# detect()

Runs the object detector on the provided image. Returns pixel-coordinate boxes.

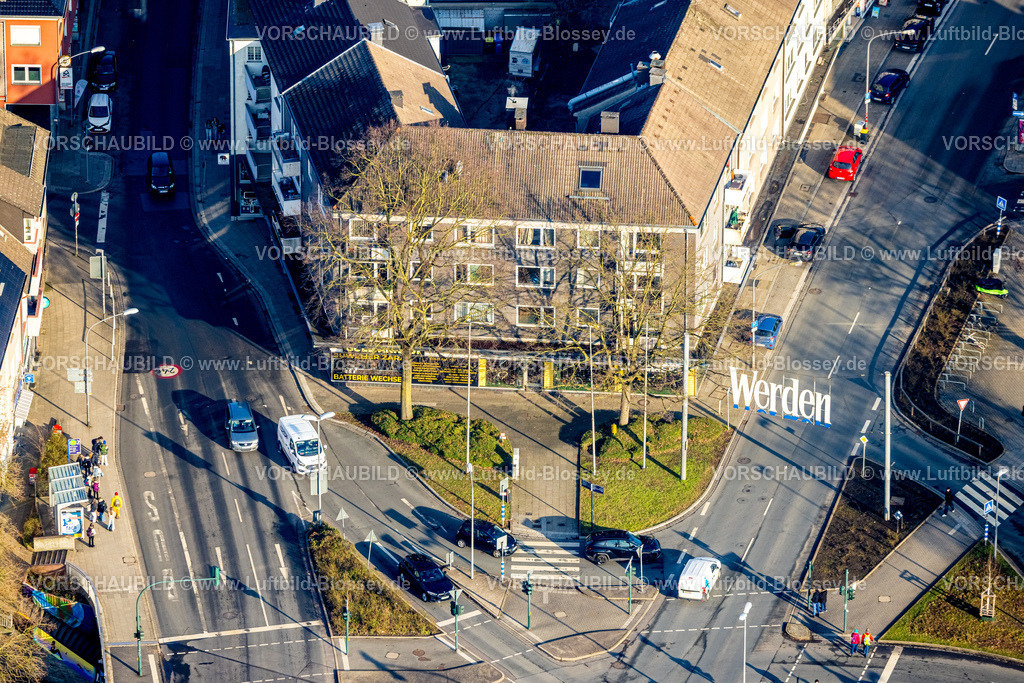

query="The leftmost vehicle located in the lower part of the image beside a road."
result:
[225,392,263,450]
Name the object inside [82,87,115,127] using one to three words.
car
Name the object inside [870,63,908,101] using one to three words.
car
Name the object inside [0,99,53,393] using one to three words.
house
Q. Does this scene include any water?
No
